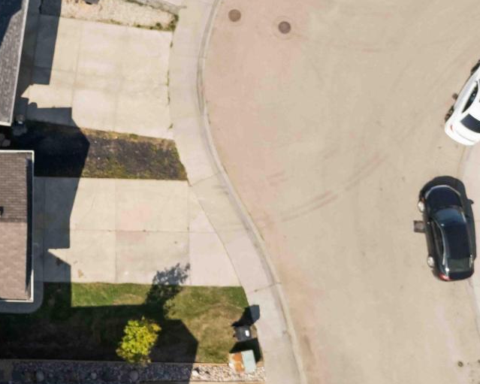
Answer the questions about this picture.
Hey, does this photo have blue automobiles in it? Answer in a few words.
No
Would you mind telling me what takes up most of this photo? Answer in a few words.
paved ground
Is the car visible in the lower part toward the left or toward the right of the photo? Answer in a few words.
right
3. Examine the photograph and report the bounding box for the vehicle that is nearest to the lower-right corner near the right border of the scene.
[418,186,473,282]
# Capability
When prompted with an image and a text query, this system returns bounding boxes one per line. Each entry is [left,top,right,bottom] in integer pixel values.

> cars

[418,186,473,282]
[441,61,480,146]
